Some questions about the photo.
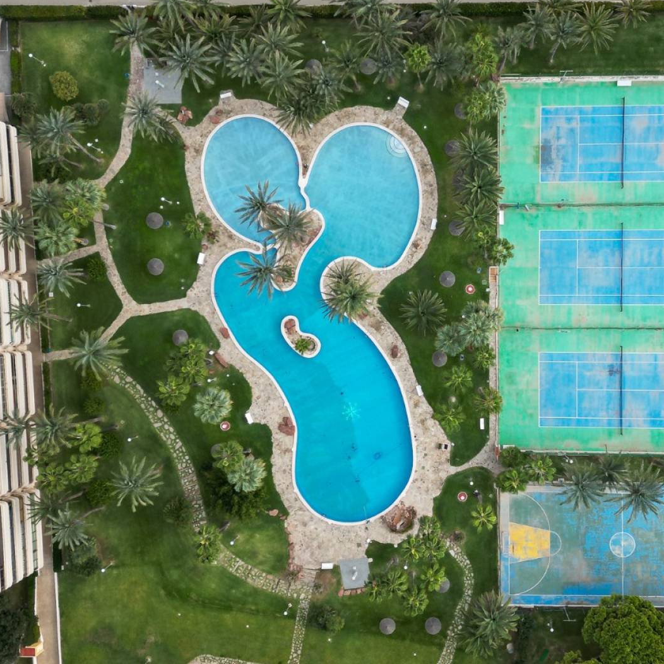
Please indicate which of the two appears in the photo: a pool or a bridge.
pool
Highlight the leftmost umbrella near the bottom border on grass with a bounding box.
[380,617,397,633]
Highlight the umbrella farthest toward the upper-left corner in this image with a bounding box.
[147,212,165,230]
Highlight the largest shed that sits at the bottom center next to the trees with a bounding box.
[340,555,370,589]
